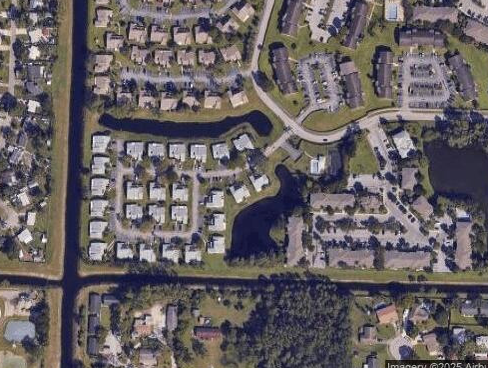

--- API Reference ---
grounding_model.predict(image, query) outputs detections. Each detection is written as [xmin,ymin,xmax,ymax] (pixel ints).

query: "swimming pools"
[386,0,405,22]
[310,158,319,175]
